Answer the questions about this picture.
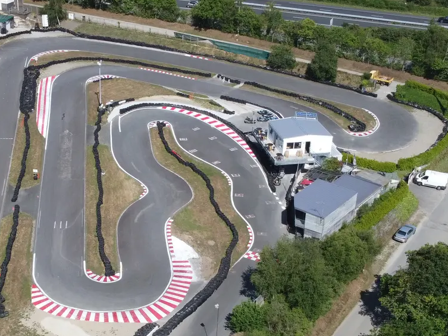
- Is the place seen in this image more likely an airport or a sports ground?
sports ground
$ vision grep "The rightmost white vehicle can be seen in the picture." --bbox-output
[411,169,448,188]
